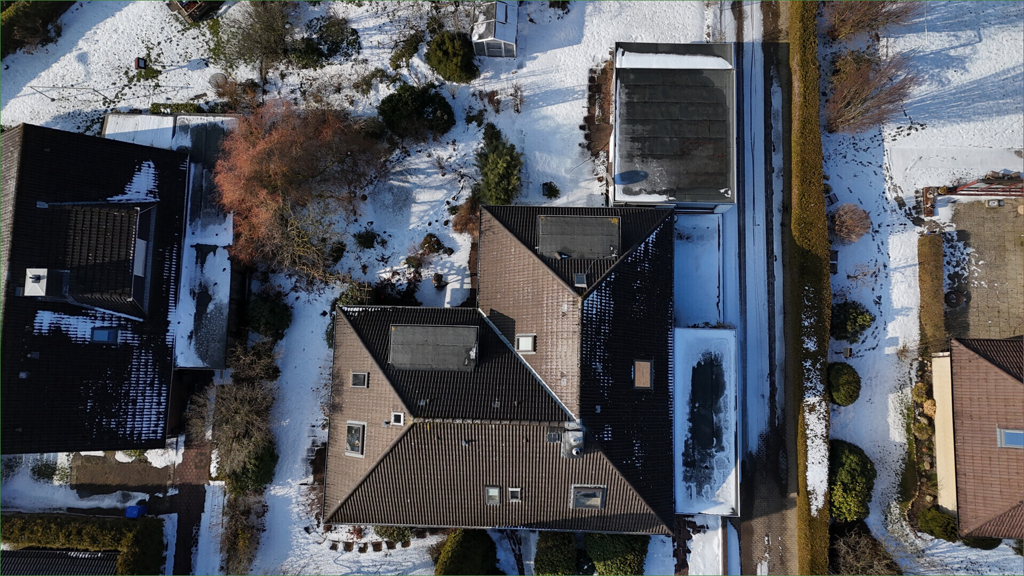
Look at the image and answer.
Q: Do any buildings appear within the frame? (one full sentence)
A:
Yes, I can see a building in this picture.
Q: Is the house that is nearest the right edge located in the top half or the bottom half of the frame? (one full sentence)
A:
You can find the house that is nearest the right edge in the bottom half.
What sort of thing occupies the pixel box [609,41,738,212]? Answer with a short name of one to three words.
building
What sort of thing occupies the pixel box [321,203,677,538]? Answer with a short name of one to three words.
house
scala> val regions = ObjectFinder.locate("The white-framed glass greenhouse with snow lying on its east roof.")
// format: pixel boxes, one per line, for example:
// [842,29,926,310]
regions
[473,0,519,57]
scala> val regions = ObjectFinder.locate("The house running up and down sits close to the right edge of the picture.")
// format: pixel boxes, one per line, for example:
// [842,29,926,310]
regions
[932,337,1024,539]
